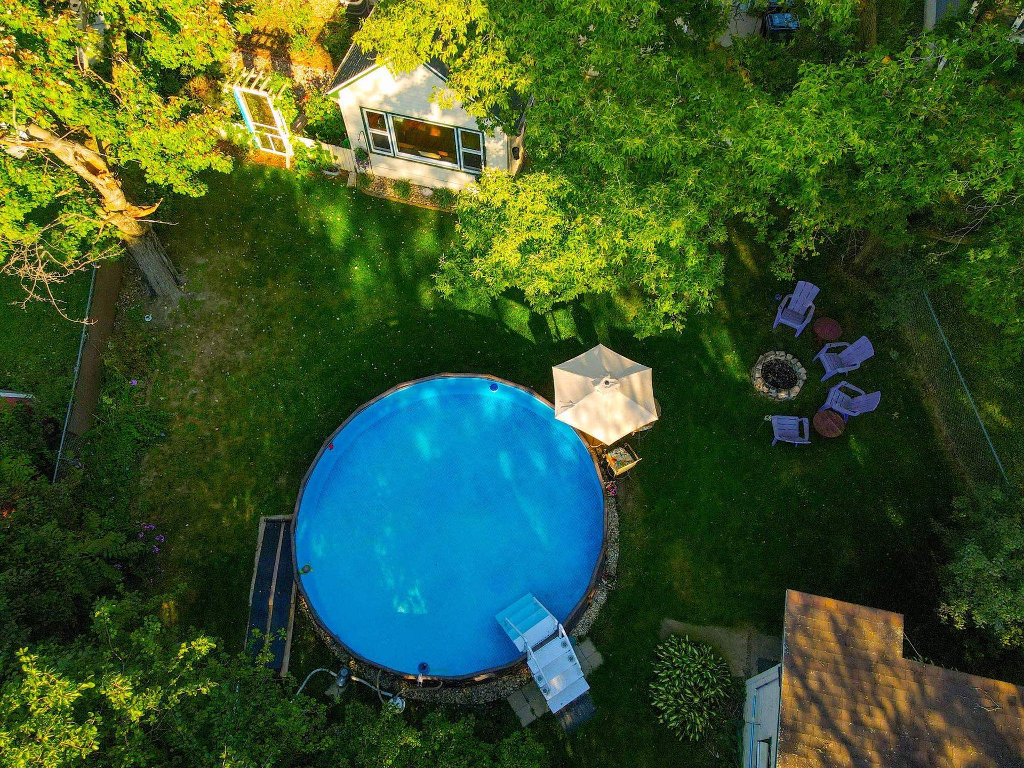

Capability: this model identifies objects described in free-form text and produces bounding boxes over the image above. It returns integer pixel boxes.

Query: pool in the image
[291,374,607,686]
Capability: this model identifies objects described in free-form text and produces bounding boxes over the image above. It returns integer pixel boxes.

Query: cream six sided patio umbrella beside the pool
[551,343,659,447]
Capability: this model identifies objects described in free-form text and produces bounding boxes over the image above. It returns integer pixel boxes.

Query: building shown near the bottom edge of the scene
[741,587,1024,768]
